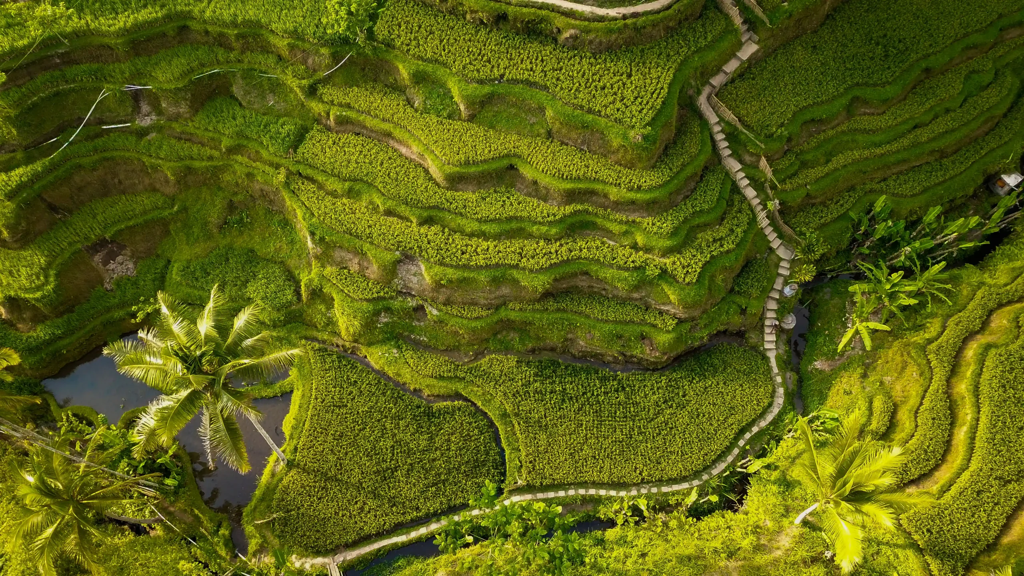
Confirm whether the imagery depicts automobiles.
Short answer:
No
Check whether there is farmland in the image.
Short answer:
Yes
